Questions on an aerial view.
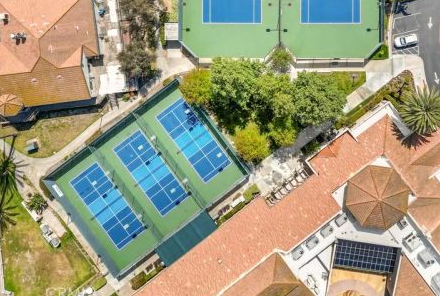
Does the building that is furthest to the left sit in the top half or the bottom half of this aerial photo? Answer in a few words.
top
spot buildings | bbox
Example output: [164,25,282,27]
[165,22,182,41]
[129,101,440,296]
[0,0,103,114]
